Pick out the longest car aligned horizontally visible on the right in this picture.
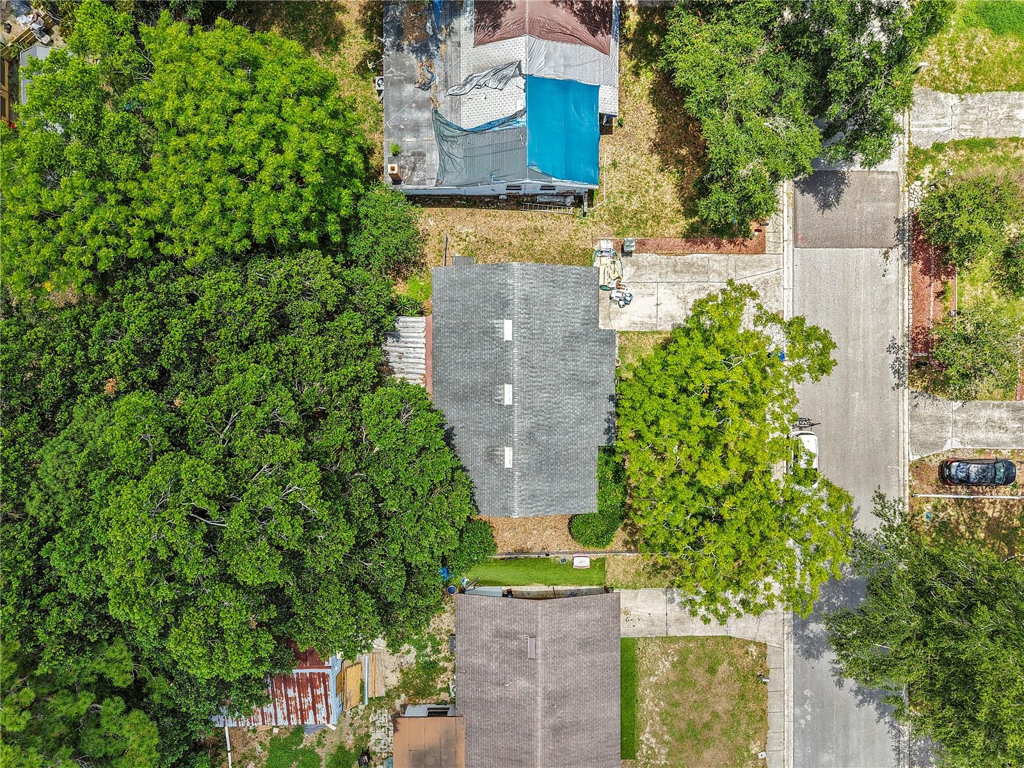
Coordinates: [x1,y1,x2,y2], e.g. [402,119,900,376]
[938,454,1016,489]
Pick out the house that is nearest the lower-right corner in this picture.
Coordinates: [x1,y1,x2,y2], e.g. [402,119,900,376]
[455,590,622,768]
